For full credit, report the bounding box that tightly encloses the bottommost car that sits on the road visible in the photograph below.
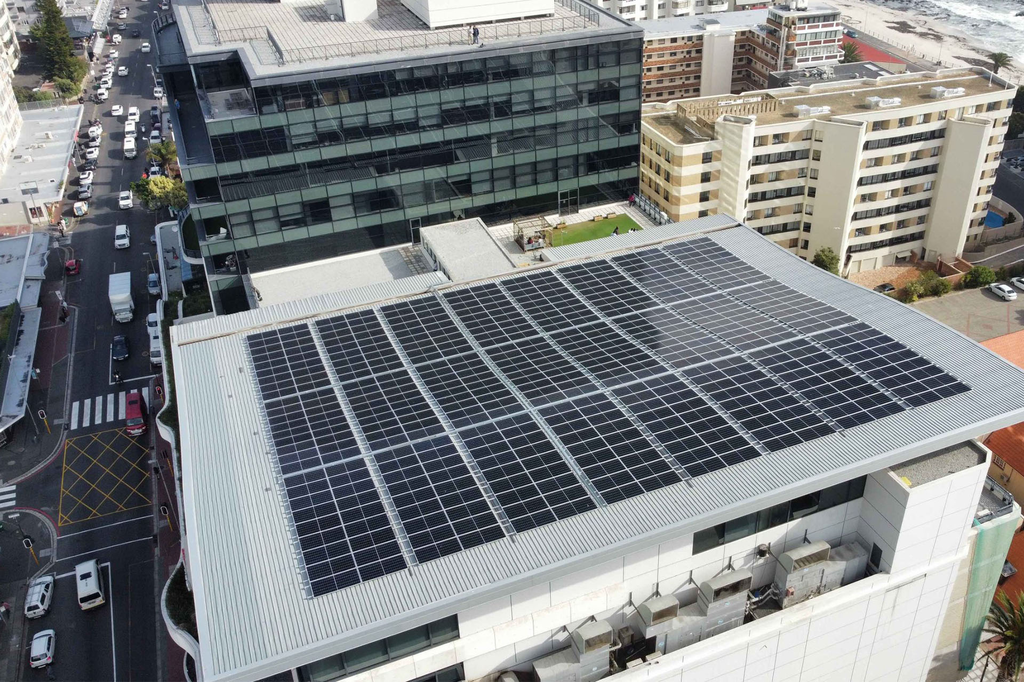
[26,627,60,674]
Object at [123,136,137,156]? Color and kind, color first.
white vehicle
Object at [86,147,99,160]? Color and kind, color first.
white vehicle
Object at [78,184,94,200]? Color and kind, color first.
gray car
